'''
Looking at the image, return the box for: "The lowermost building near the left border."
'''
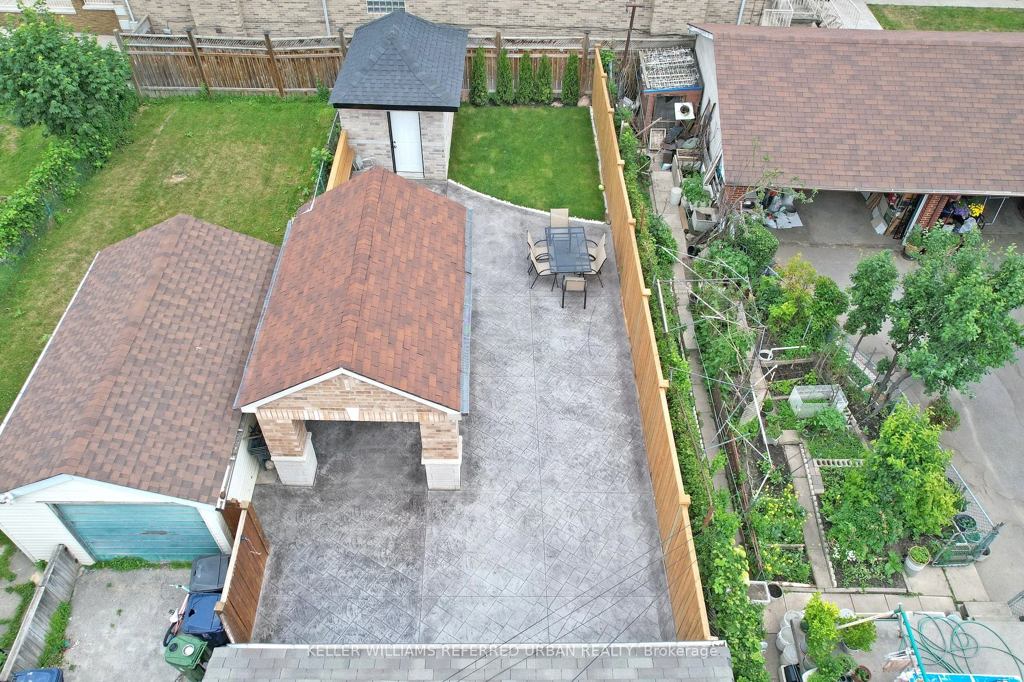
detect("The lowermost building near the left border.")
[0,210,278,560]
